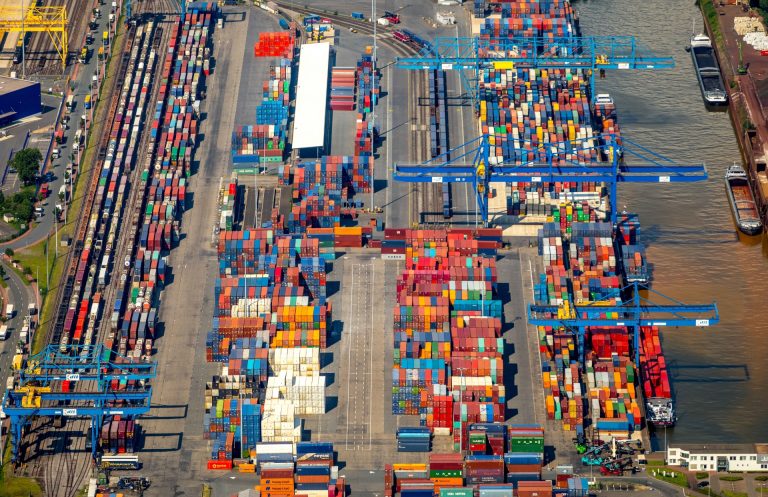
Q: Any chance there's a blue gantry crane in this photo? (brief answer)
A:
Yes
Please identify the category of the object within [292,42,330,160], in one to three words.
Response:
shed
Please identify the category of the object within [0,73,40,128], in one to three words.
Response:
building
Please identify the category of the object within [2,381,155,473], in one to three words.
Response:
container crane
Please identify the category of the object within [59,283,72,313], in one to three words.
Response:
rail car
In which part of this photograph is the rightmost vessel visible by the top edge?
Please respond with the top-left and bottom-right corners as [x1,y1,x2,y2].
[687,22,727,109]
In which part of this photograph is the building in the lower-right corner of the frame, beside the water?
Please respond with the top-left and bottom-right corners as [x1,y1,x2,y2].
[666,436,768,472]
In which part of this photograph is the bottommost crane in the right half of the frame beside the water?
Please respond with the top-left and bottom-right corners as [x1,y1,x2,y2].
[525,271,720,391]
